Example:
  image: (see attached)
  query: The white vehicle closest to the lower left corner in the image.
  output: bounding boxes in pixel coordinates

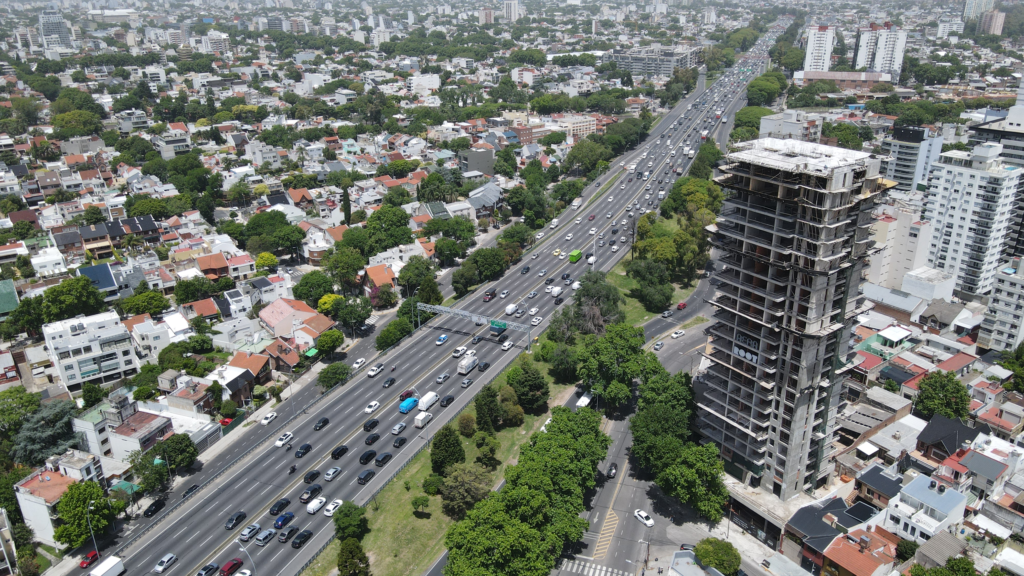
[92,546,133,576]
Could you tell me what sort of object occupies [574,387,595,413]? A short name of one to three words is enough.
bus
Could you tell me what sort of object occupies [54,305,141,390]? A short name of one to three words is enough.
building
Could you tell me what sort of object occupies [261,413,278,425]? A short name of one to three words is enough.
vehicle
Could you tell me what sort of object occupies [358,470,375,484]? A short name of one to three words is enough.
vehicle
